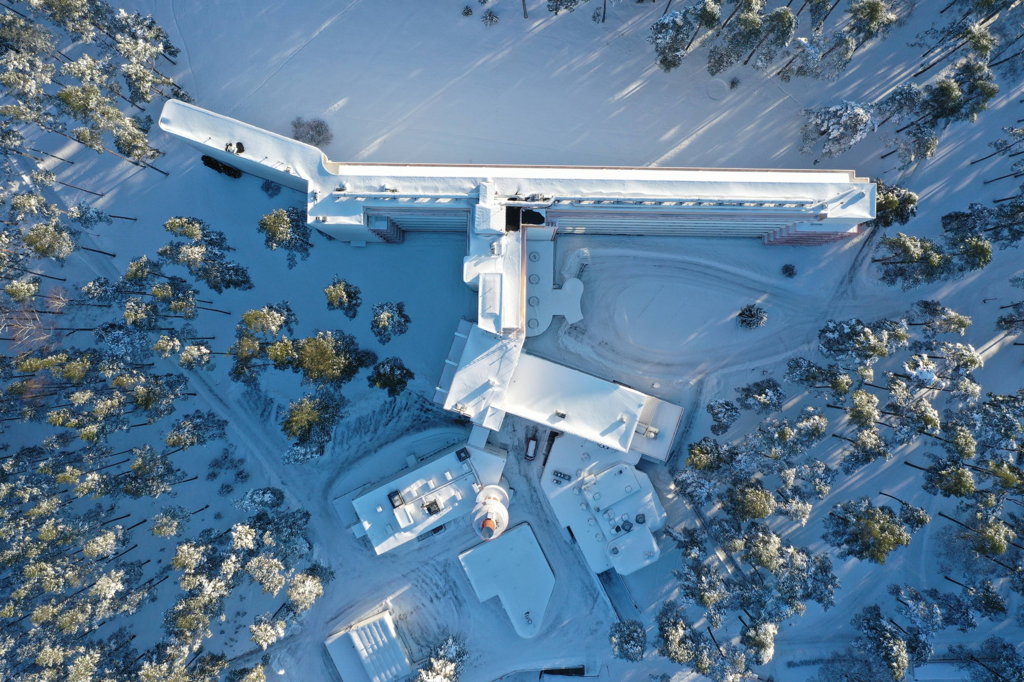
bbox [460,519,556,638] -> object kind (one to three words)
building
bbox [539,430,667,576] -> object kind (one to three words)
building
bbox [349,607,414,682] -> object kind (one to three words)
shed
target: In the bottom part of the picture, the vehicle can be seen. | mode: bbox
[524,437,538,462]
